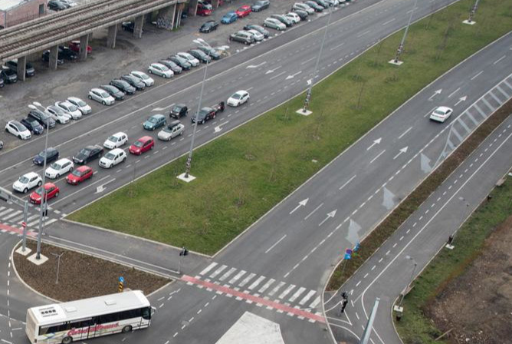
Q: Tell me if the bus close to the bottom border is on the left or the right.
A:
left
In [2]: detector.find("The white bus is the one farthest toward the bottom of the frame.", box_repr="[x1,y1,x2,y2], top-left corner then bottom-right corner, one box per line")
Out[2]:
[28,288,163,344]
